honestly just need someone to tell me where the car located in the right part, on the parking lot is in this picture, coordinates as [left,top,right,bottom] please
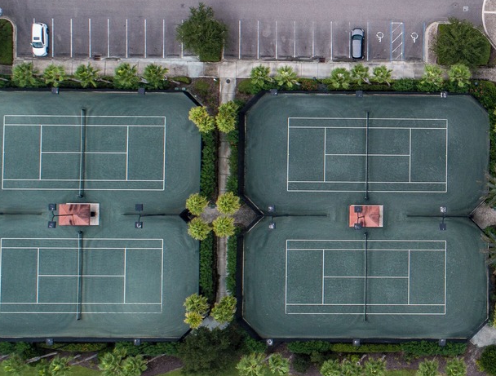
[350,29,365,59]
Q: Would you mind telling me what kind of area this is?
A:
sports ground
